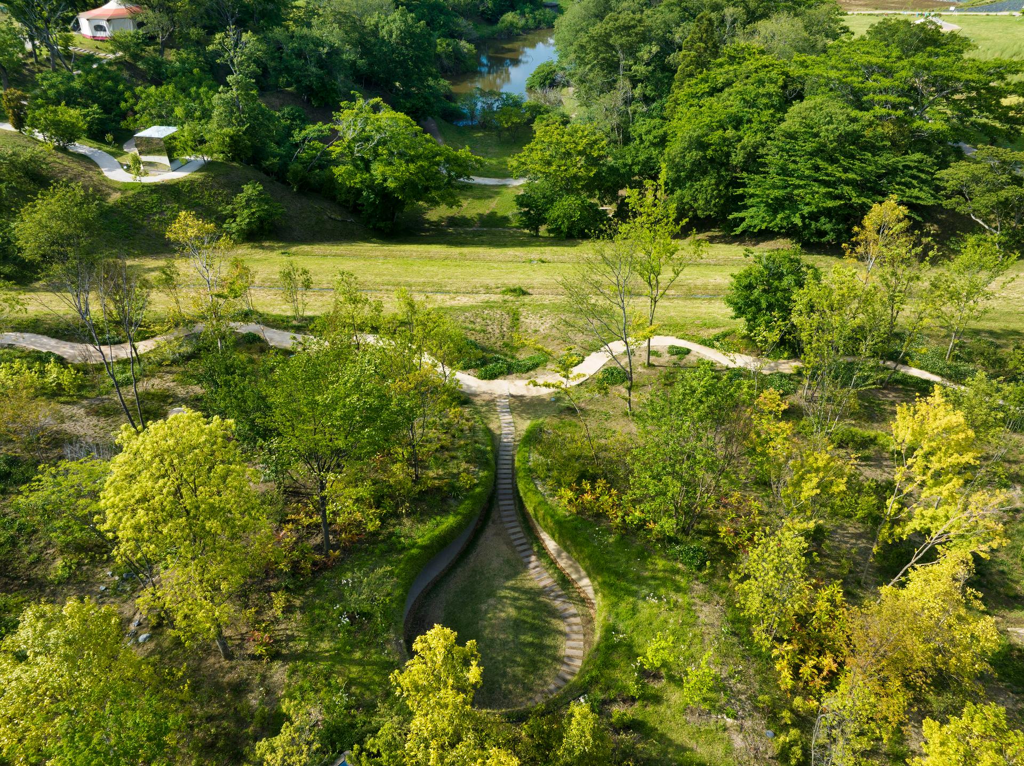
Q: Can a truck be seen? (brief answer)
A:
No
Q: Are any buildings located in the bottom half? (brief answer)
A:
No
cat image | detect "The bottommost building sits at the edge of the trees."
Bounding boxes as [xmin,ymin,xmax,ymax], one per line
[133,125,198,171]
